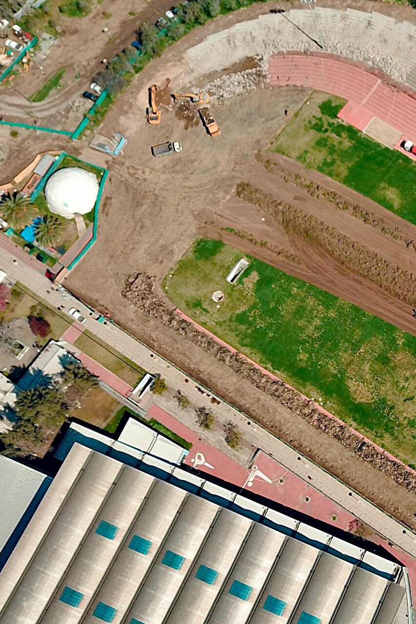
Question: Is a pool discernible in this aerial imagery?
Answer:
No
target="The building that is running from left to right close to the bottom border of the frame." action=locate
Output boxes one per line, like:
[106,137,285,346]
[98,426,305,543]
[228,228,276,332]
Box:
[0,422,414,624]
